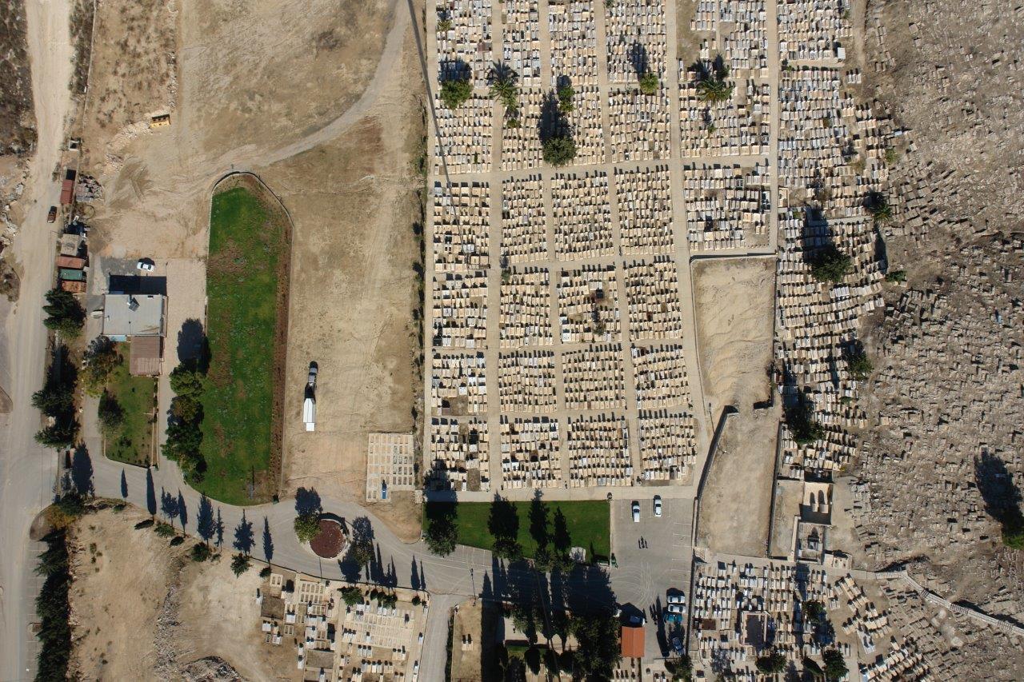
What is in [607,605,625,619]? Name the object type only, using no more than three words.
car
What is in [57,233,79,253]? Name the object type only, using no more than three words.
shed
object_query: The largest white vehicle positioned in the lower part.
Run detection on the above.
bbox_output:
[302,398,315,431]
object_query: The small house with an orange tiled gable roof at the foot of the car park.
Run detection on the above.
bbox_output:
[622,624,645,659]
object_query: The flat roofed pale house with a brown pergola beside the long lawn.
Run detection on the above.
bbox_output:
[104,294,173,335]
